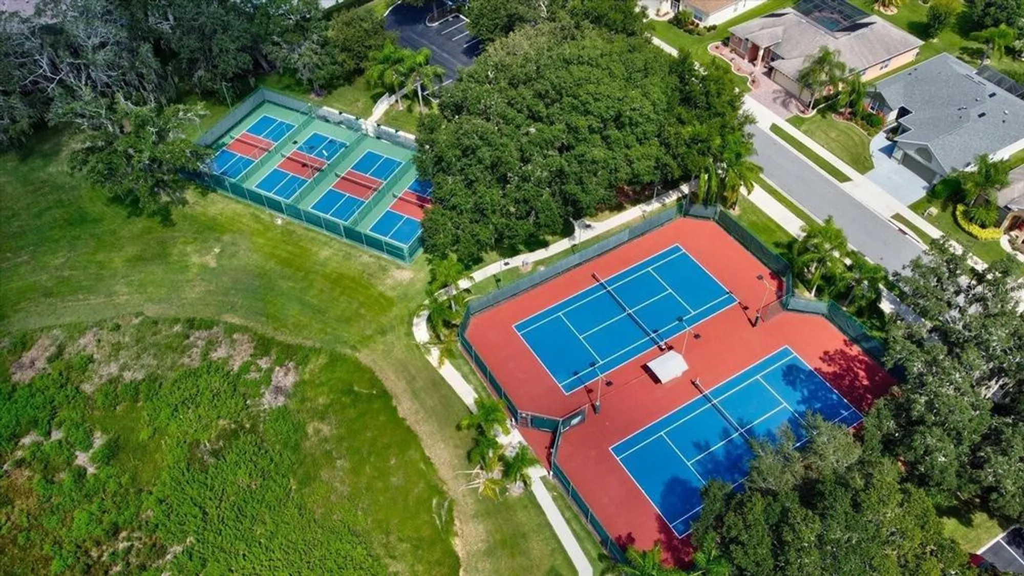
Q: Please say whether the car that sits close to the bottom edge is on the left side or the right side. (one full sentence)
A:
It is on the right.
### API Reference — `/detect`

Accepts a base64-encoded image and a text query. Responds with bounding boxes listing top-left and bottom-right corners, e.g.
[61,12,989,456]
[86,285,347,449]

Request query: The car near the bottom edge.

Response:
[980,555,1020,576]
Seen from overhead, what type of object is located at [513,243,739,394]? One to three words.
tennis court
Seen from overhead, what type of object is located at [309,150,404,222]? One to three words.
sports court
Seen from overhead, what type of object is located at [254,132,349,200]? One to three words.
sports court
